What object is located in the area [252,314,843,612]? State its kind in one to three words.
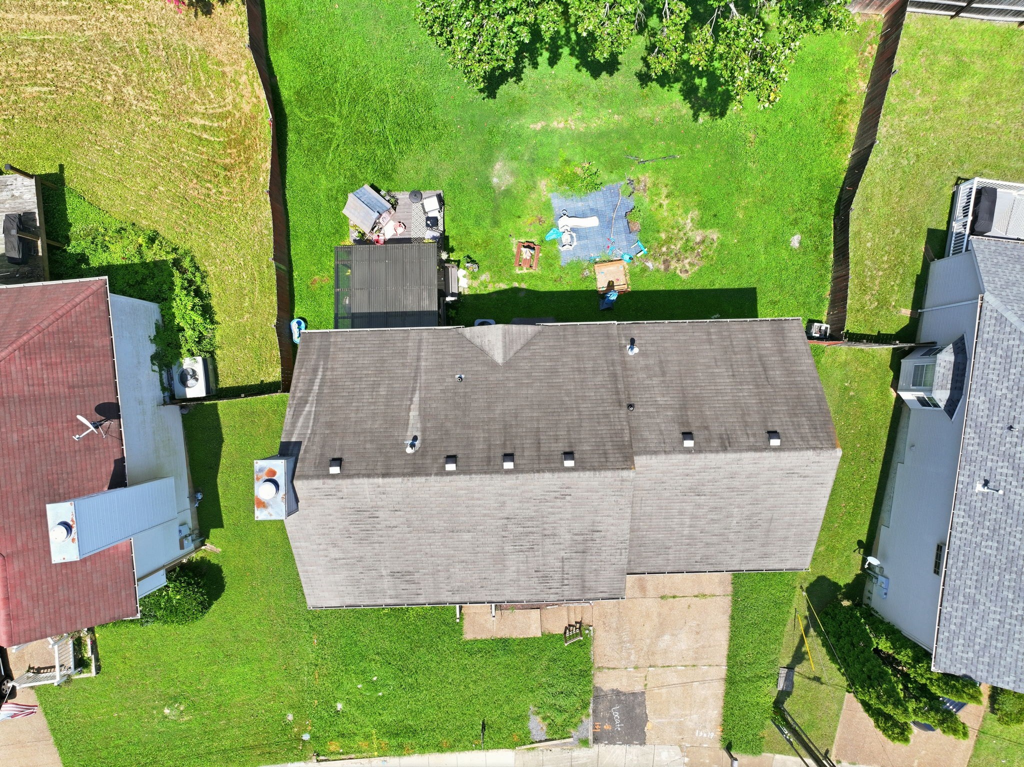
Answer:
house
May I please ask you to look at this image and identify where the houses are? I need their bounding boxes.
[252,314,843,612]
[872,235,1024,694]
[0,274,208,649]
